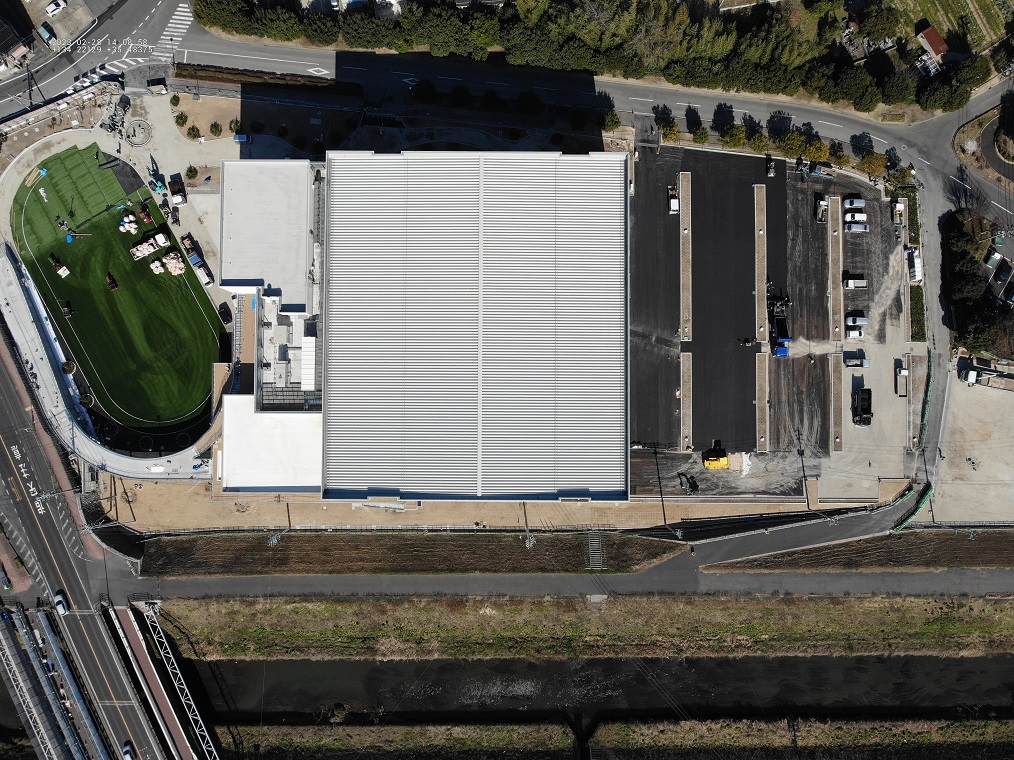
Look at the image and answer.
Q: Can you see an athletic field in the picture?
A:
Yes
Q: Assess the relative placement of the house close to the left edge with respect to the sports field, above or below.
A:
above it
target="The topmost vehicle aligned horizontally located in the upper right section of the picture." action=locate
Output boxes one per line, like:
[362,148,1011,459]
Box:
[810,164,837,180]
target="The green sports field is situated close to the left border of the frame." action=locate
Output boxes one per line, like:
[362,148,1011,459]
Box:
[11,142,225,434]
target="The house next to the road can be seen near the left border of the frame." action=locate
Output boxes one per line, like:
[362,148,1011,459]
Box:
[0,19,41,71]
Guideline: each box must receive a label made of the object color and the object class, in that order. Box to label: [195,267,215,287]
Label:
white vehicle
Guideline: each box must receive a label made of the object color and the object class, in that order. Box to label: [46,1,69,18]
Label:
white car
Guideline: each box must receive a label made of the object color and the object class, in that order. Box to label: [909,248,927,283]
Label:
white vehicle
